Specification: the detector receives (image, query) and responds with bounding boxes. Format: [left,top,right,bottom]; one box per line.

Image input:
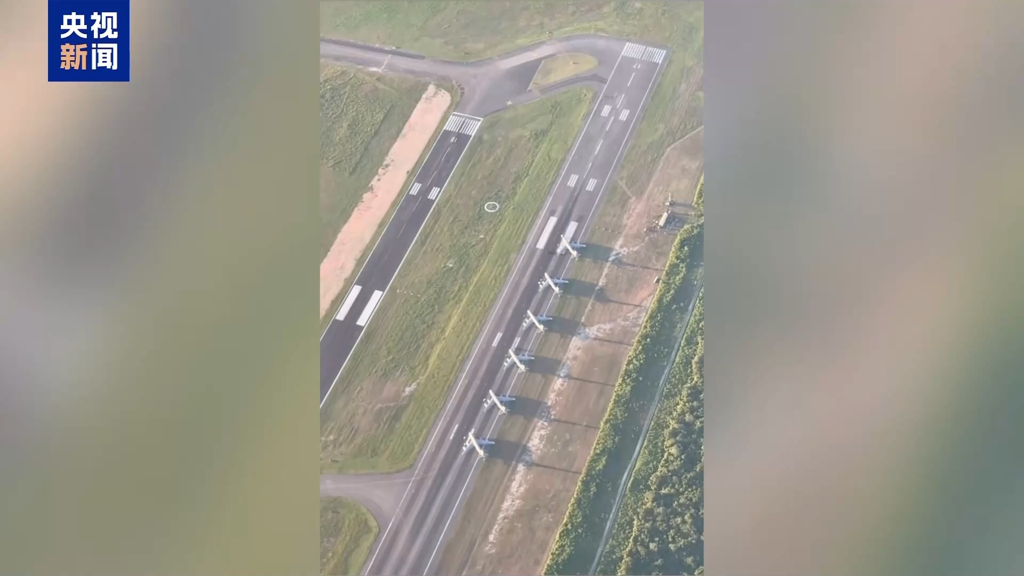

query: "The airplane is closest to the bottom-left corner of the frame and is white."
[463,433,494,459]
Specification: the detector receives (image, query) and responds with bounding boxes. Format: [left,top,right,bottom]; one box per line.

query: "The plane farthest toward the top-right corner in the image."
[558,238,585,258]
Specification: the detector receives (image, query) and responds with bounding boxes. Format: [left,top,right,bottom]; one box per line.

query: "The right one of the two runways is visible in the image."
[360,36,674,576]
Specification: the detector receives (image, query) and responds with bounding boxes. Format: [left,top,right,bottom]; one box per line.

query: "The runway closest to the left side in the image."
[182,112,483,576]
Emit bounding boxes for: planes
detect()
[463,433,494,459]
[484,390,515,415]
[540,274,569,295]
[504,350,534,372]
[558,238,585,258]
[523,311,552,333]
